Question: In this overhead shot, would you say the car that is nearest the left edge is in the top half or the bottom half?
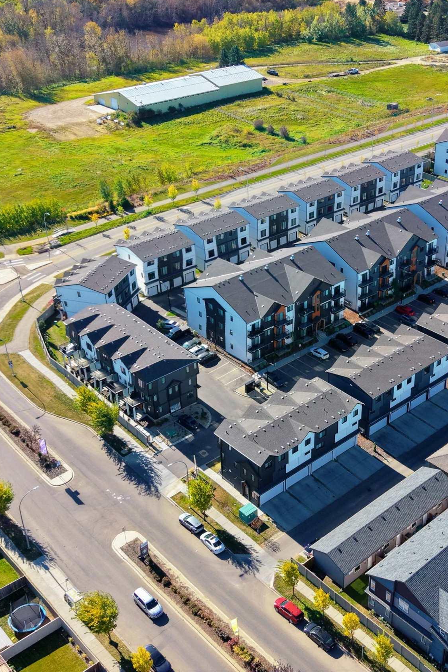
bottom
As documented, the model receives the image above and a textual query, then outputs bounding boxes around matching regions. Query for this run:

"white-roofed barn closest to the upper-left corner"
[100,66,269,116]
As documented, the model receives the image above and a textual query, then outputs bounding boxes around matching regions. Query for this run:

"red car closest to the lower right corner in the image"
[276,596,305,622]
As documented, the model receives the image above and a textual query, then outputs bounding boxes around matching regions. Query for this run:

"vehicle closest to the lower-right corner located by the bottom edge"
[307,622,336,648]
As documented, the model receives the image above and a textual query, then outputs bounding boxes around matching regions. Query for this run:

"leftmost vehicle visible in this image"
[134,590,162,616]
